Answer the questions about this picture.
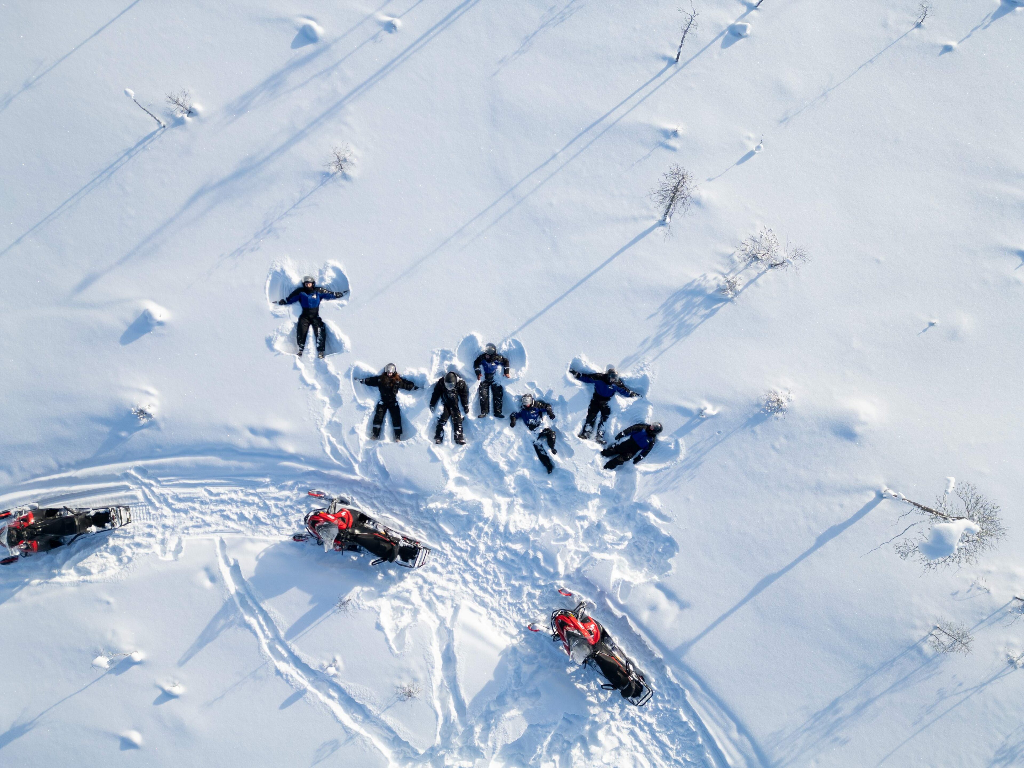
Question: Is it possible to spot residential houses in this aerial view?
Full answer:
No, I find no residential house anywhere in the image.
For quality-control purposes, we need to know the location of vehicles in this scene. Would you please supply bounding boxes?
[292,493,430,569]
[0,496,127,556]
[524,594,654,706]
